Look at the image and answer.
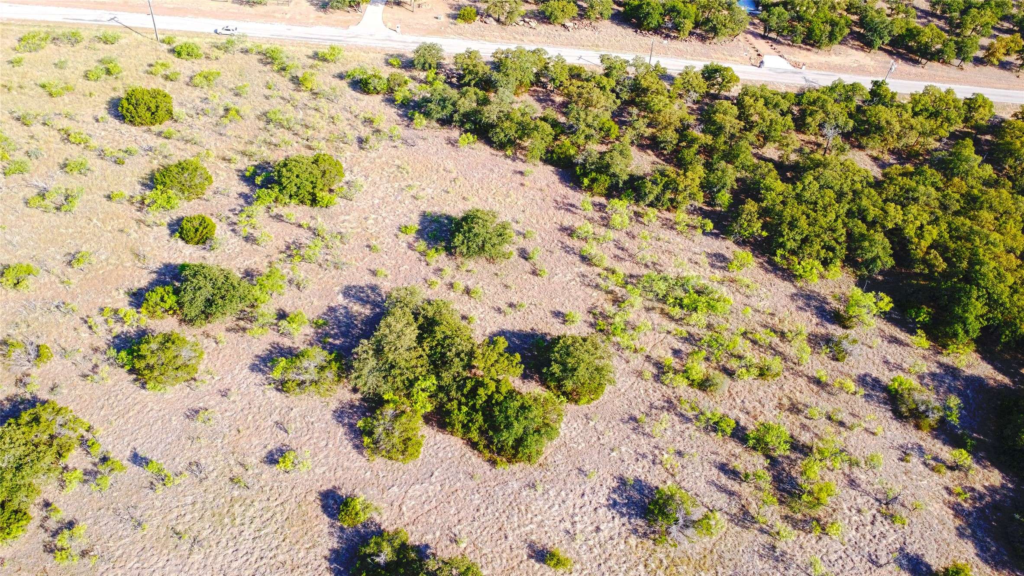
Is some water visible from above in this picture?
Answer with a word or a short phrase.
No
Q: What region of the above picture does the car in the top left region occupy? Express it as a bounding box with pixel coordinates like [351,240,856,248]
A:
[214,23,240,35]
